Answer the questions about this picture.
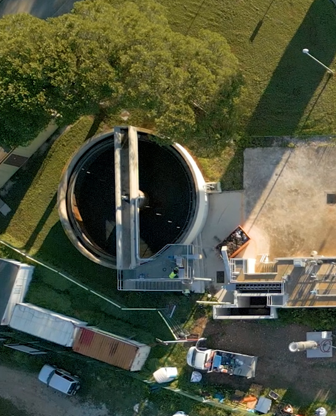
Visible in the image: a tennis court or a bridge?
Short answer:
bridge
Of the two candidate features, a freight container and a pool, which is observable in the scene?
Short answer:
freight container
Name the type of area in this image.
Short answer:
industrial area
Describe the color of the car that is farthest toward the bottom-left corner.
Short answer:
blue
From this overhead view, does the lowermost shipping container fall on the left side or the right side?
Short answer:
left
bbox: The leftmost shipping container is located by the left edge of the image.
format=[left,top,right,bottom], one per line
[0,255,38,329]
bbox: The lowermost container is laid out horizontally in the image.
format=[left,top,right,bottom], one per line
[71,325,157,372]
